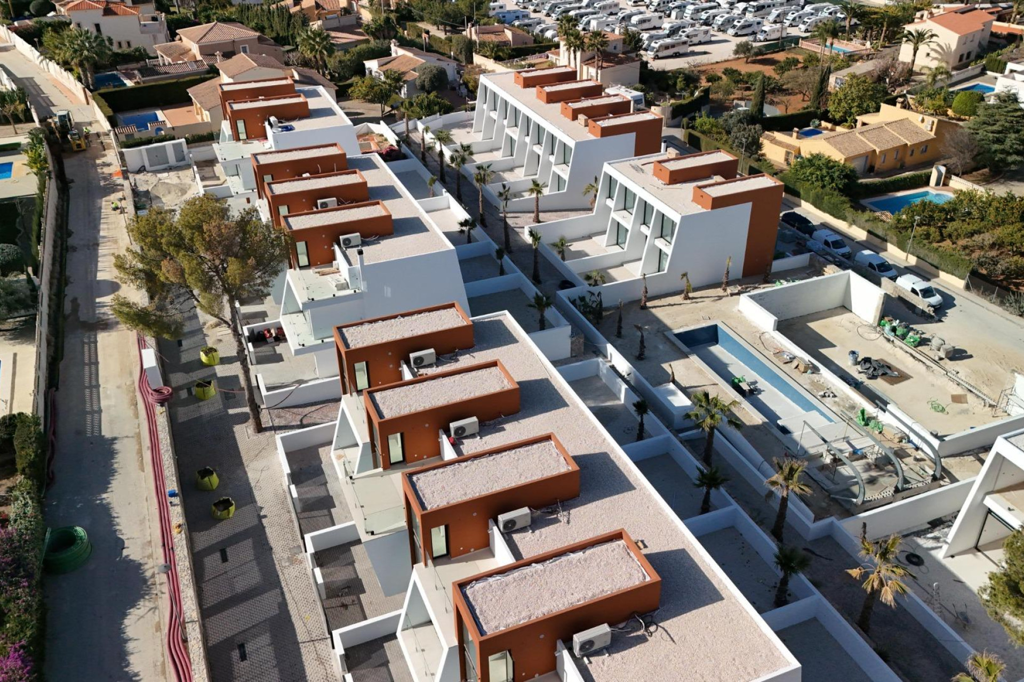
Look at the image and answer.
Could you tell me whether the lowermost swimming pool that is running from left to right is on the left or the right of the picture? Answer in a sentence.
The lowermost swimming pool that is running from left to right appears in the right half of the scene.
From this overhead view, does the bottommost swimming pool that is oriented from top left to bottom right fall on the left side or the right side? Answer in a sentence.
The bottommost swimming pool that is oriented from top left to bottom right sits on the right side.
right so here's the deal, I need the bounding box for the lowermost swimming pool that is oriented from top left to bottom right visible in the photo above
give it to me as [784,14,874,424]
[662,318,851,455]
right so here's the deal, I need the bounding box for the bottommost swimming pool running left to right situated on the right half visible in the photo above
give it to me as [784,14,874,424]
[858,189,957,216]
